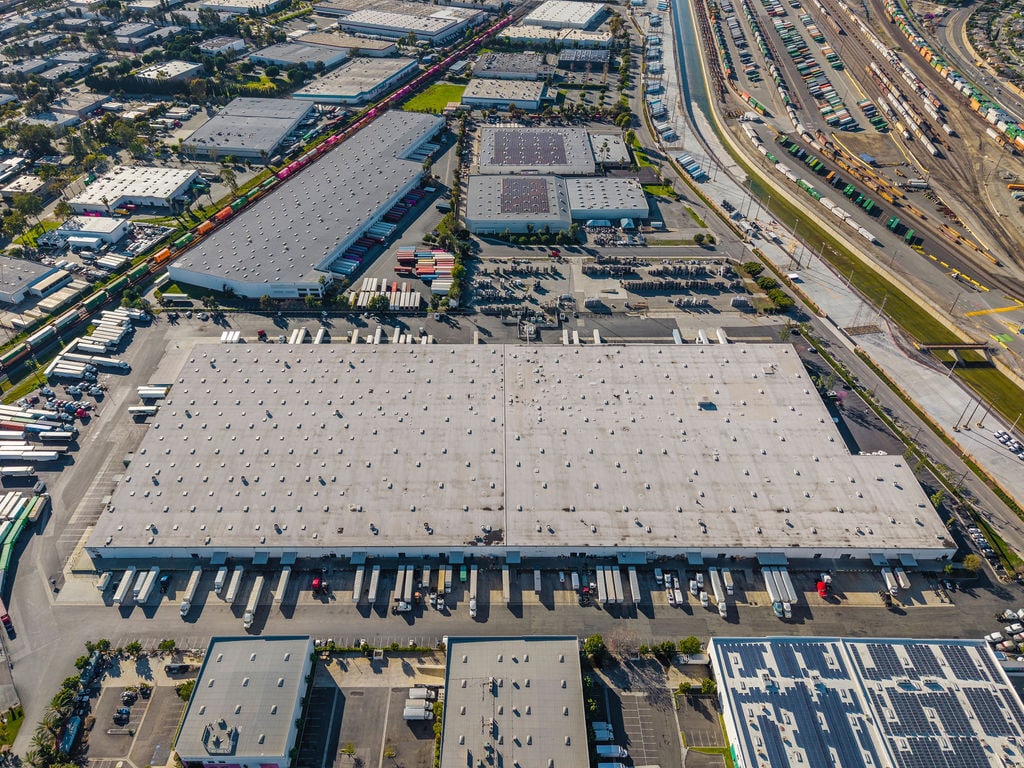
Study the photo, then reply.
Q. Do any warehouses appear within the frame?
Yes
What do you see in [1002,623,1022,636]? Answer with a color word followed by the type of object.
white vehicle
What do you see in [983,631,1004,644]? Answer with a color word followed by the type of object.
white vehicle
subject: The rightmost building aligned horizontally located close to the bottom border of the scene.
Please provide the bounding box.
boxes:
[707,638,1024,768]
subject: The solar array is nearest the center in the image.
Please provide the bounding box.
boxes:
[501,178,549,213]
